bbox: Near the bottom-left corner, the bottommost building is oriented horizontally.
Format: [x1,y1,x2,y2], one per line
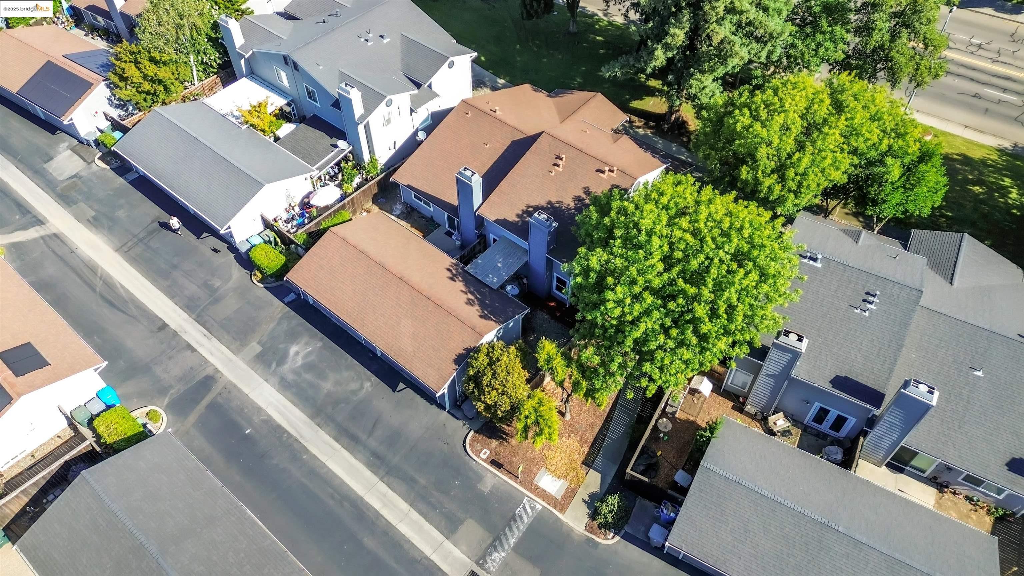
[10,429,314,576]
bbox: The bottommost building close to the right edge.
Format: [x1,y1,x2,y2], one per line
[664,417,999,576]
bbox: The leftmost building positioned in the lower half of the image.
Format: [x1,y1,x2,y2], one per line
[0,251,112,470]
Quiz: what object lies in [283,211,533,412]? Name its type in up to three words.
building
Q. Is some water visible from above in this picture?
No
